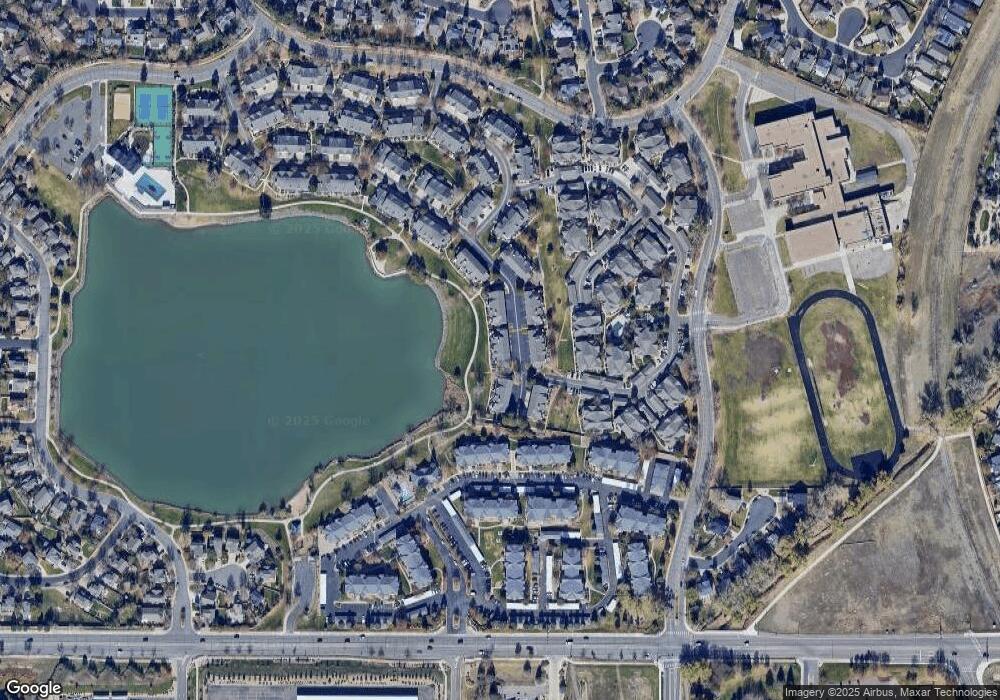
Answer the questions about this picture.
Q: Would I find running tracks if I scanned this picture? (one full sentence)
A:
Yes, there's a running track down there.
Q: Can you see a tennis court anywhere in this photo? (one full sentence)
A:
Yes, a tennis court can be made out from above.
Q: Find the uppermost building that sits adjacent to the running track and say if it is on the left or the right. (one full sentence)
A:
The uppermost building that sits adjacent to the running track is on the right side of the image.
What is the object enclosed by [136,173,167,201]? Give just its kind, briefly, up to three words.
swimming pool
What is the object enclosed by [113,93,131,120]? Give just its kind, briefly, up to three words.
sports court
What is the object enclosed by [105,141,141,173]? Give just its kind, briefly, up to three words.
building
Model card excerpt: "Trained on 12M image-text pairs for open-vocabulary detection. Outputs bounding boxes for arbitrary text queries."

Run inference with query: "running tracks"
[789,290,903,480]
